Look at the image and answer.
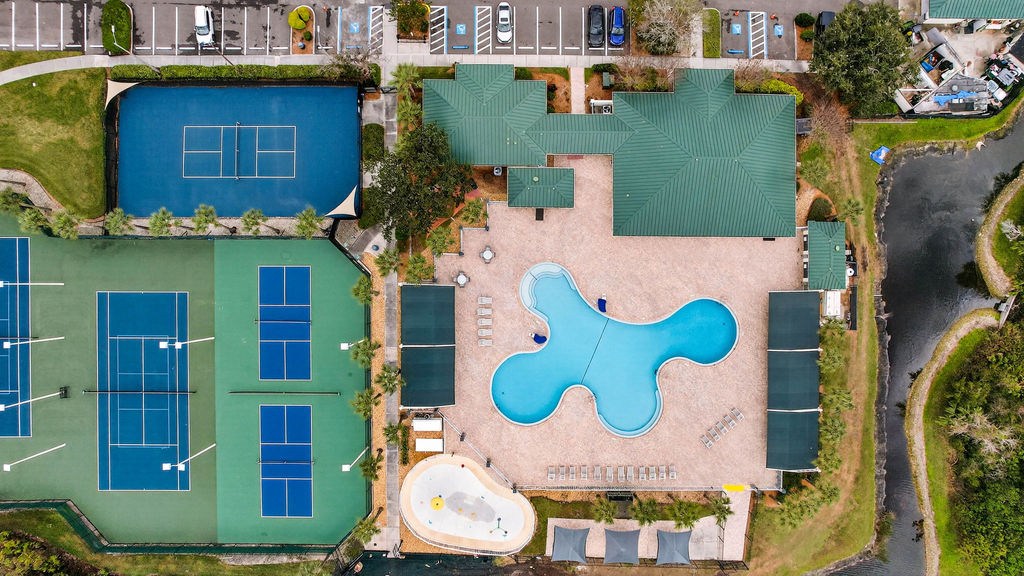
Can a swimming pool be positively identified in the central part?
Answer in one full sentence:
Yes, a swimming pool can be seen in the central part.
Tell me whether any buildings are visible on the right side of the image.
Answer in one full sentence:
Yes, a building shows up on the right side of the image.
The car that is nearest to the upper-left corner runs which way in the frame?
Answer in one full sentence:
The car that is nearest to the upper-left corner is laid out up and down.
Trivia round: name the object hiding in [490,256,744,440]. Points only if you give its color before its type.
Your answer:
blue swimming pool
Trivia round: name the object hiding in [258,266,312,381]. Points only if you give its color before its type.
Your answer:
blue sports court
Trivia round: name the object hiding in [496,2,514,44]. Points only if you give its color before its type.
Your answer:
white car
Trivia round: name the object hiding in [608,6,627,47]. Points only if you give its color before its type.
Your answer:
blue car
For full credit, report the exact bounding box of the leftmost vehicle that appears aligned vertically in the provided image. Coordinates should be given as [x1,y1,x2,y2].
[194,2,216,46]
